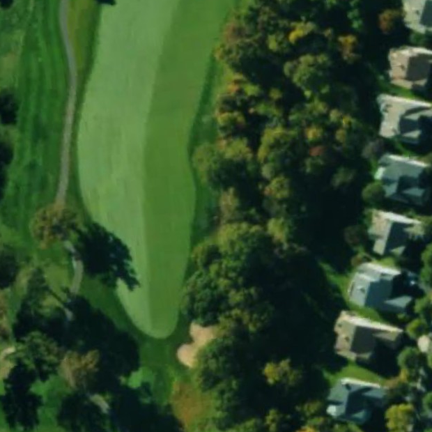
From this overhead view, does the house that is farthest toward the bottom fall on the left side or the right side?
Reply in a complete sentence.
It is on the right.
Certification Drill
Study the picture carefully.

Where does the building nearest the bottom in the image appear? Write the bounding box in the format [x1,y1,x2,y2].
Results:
[320,373,390,420]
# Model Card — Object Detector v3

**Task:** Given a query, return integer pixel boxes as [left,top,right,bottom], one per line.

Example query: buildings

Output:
[400,0,432,32]
[373,88,432,139]
[360,151,432,205]
[335,308,404,356]
[343,257,414,313]
[320,373,390,420]
[362,205,429,252]
[381,42,432,88]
